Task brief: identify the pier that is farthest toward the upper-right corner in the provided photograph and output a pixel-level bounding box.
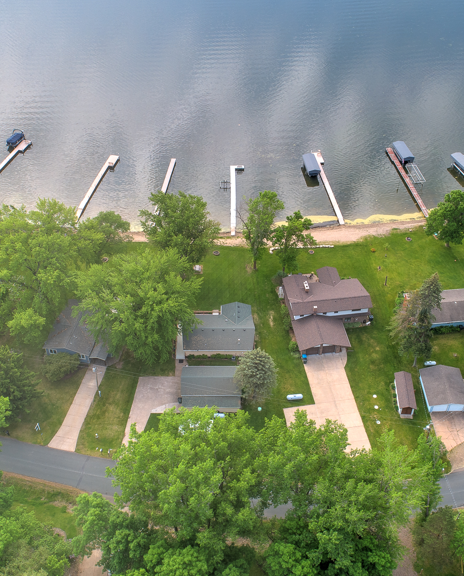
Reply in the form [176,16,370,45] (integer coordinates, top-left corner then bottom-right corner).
[386,146,424,210]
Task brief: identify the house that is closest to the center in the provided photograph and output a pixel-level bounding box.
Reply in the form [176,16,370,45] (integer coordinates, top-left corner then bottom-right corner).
[174,297,254,361]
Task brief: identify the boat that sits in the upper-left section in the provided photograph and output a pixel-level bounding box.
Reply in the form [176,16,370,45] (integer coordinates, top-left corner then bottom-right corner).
[3,126,28,147]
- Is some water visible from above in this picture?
Yes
